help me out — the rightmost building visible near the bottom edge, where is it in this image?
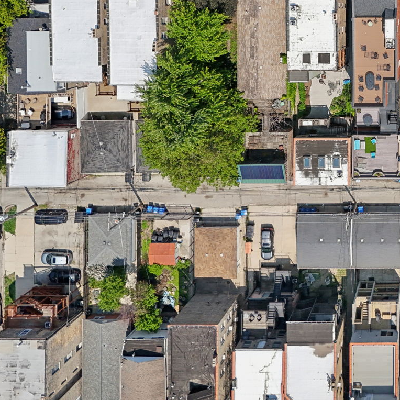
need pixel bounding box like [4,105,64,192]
[350,316,400,400]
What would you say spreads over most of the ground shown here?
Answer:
buildings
